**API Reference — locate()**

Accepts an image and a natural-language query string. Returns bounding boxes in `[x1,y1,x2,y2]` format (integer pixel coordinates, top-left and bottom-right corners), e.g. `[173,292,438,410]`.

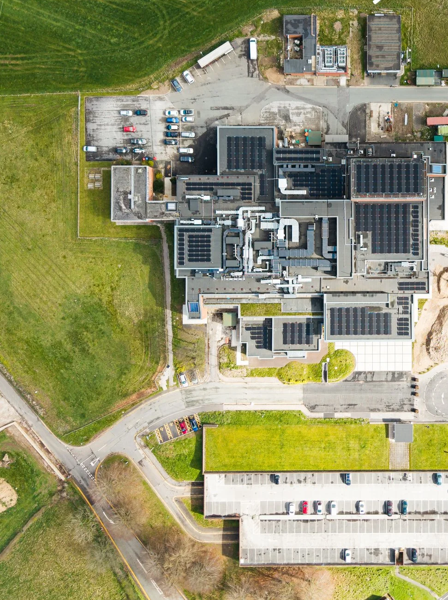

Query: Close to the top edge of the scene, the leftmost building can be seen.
[284,15,317,76]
